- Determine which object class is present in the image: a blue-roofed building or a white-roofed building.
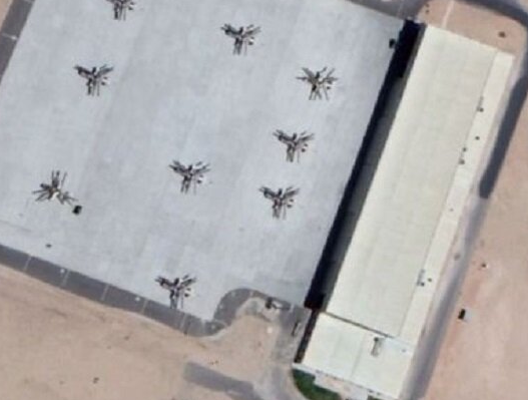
white-roofed building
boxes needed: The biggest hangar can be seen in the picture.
[314,22,514,342]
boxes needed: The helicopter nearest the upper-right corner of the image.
[303,69,337,100]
